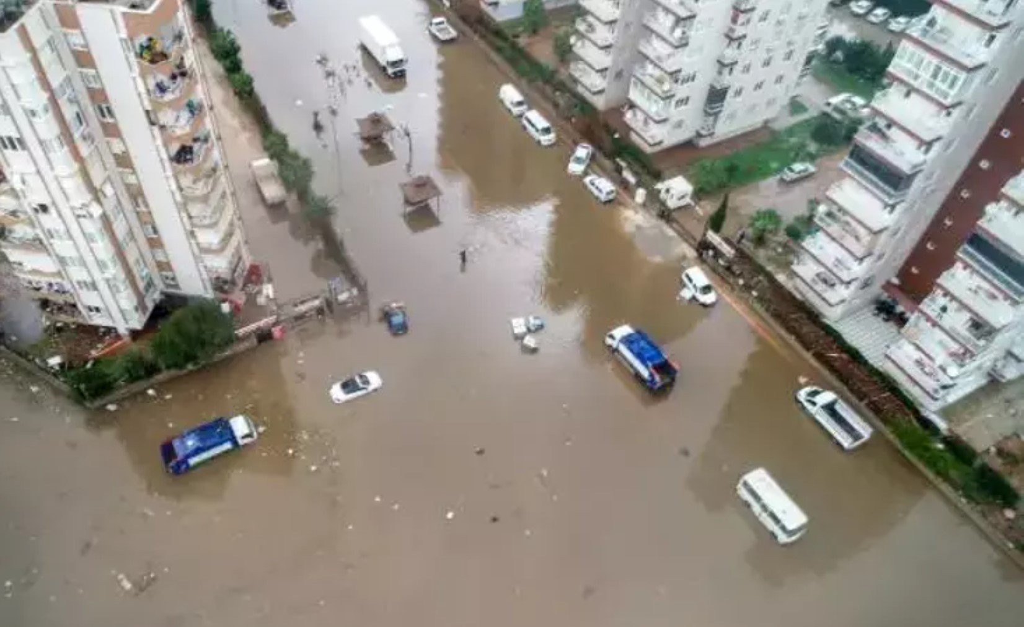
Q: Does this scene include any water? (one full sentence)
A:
Yes, water shows up in the scene.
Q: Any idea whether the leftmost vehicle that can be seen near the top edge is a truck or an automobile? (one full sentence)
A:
What you see as the leftmost vehicle that can be seen near the top edge is a truck.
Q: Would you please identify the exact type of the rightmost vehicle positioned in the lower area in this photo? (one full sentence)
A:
Looking closely, the rightmost vehicle positioned in the lower area is a truck.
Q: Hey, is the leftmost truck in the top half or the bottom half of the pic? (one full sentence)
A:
The leftmost truck is in the bottom half of the image.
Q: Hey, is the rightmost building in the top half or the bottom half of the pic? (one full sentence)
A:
It is in the top half that the rightmost building appears.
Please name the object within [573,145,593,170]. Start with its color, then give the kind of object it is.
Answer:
white car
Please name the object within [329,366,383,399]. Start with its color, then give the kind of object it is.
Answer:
white car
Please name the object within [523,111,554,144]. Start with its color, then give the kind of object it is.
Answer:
white van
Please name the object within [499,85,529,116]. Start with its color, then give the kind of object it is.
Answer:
white vehicle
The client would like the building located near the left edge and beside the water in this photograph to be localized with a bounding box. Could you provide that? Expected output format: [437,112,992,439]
[0,0,263,353]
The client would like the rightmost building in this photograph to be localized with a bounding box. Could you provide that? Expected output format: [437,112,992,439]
[782,0,1024,411]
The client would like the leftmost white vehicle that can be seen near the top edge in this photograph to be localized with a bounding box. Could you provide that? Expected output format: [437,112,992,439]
[359,20,408,76]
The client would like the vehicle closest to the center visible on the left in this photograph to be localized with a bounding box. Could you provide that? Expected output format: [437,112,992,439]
[382,306,410,337]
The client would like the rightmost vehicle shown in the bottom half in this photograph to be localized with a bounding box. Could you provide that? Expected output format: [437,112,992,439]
[802,390,872,451]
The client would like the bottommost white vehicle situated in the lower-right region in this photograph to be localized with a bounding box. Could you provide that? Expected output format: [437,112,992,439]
[736,472,804,544]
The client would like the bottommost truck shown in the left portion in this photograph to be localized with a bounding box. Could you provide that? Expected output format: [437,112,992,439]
[157,416,253,481]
